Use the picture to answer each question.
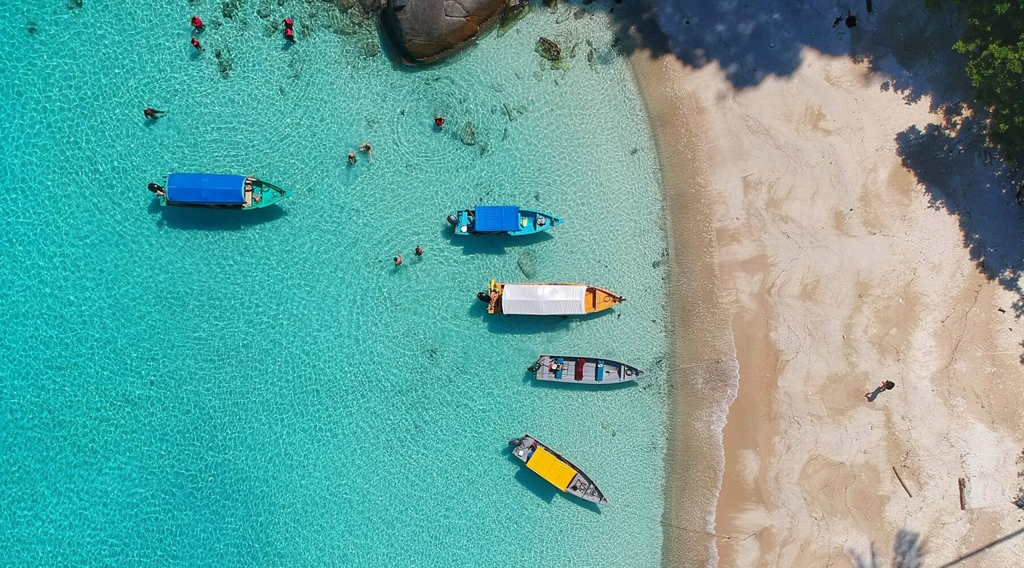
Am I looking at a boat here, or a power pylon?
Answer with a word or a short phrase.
boat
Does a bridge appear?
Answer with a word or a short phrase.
No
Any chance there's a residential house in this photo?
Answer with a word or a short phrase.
No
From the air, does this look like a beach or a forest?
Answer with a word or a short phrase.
beach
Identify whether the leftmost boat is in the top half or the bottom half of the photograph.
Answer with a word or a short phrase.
top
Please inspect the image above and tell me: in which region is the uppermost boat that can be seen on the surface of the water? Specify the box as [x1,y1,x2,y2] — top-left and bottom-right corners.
[148,172,292,208]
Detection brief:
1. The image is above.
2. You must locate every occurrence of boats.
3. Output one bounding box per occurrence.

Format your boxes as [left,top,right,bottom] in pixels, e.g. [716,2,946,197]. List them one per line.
[476,282,626,315]
[525,356,652,386]
[444,205,565,236]
[148,172,292,208]
[507,436,613,510]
